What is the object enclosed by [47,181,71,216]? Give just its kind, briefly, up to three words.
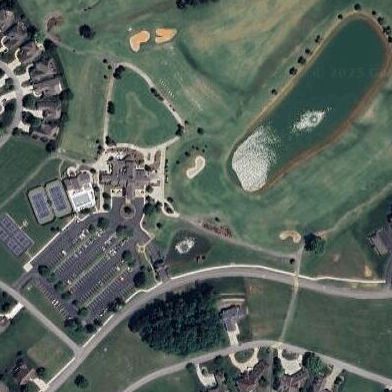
tennis court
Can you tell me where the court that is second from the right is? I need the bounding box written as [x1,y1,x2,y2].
[29,187,54,223]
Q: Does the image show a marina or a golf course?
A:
golf course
